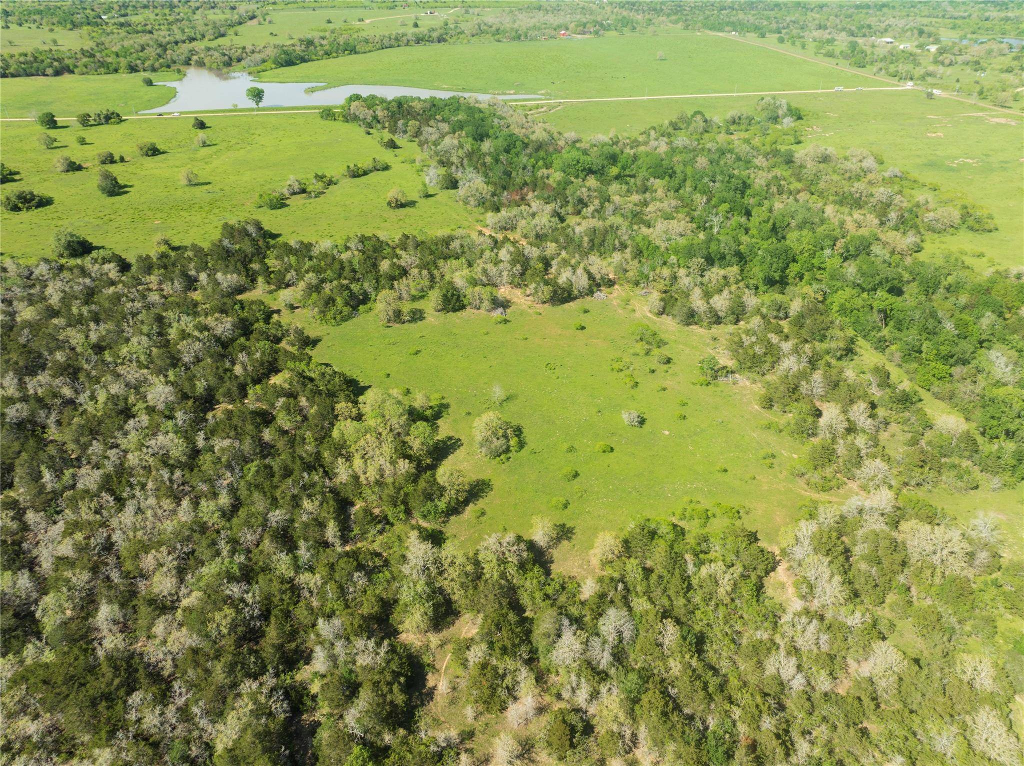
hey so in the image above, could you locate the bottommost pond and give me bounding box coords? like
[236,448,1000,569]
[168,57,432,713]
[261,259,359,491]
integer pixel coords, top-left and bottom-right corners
[142,67,543,113]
